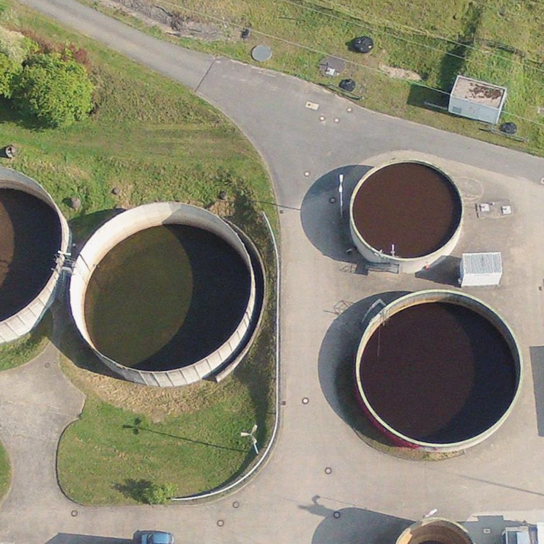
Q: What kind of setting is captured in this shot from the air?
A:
industrial area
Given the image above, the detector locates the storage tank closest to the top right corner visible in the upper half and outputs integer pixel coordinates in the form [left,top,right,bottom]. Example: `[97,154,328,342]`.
[350,157,461,275]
